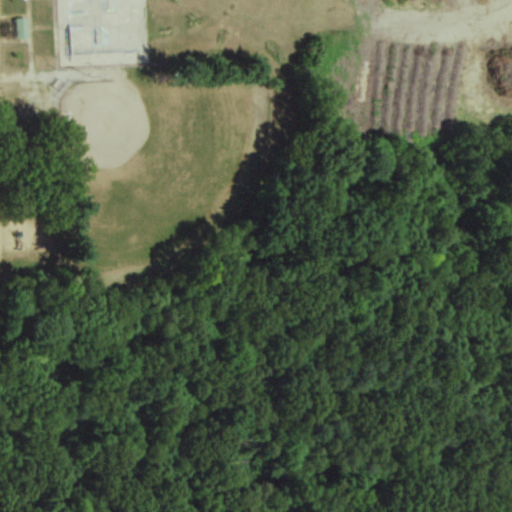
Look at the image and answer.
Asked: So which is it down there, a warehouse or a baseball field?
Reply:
baseball field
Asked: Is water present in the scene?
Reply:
No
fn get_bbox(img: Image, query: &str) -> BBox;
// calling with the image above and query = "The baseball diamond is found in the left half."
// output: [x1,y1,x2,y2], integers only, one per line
[60,80,292,296]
